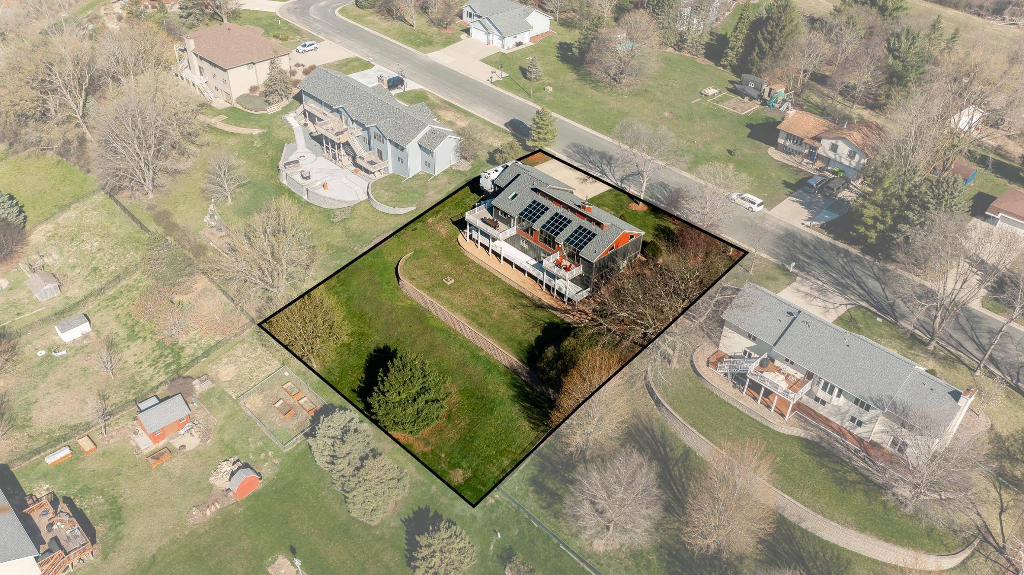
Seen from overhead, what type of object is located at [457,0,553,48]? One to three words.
house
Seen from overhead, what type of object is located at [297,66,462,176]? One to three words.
house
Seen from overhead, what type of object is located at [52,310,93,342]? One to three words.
shed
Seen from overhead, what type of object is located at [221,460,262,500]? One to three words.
shed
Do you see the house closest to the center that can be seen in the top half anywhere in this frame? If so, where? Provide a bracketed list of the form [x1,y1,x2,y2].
[488,163,643,287]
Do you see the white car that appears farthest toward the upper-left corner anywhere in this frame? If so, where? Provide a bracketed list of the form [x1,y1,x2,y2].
[297,40,320,54]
